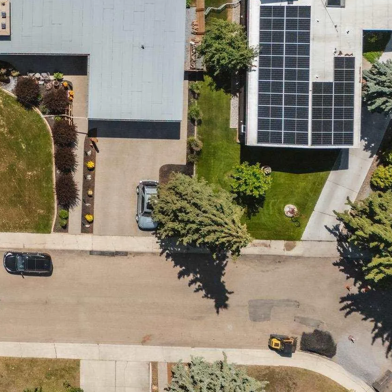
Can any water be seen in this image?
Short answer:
No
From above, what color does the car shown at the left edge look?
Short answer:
black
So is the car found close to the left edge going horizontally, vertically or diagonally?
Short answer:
horizontally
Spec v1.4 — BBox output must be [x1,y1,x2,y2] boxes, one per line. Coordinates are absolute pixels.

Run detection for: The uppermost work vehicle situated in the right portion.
[272,332,303,353]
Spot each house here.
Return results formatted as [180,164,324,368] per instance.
[231,0,392,149]
[0,0,185,121]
